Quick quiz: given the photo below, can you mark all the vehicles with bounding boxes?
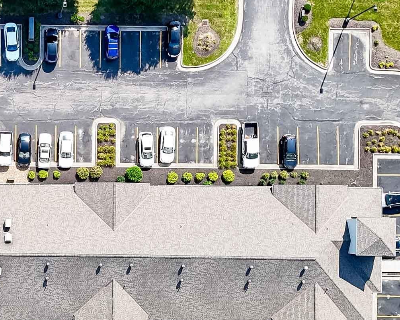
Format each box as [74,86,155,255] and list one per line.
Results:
[166,21,183,57]
[44,28,61,63]
[105,25,121,61]
[16,133,31,167]
[37,134,51,168]
[3,23,20,61]
[281,134,299,168]
[57,131,75,167]
[159,126,176,164]
[139,131,154,167]
[0,130,12,167]
[241,123,261,166]
[384,190,400,208]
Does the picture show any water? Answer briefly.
No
